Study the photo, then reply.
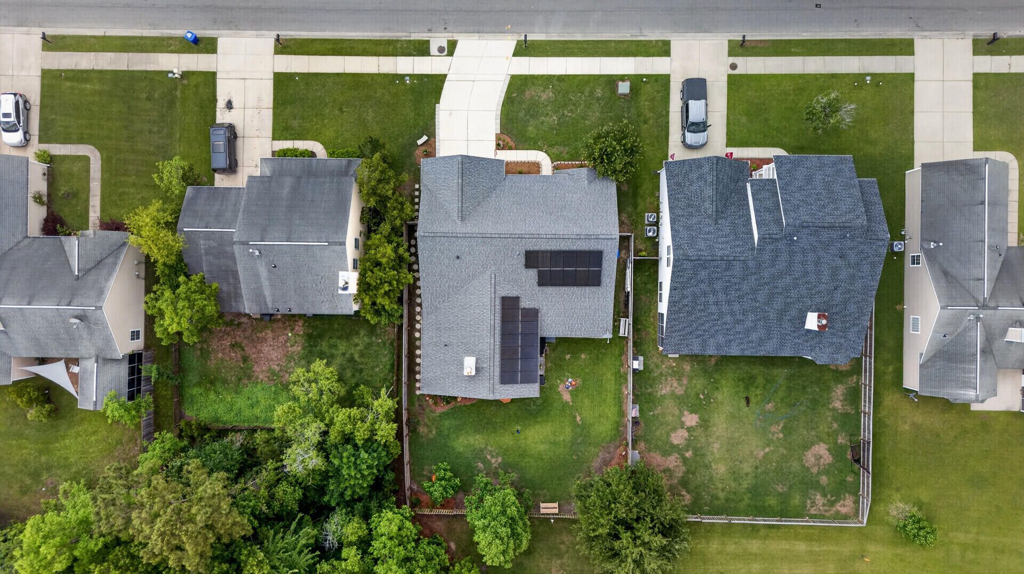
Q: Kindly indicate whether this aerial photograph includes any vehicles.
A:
Yes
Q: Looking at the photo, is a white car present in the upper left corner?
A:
Yes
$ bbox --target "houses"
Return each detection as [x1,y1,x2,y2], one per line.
[0,155,145,411]
[902,157,1024,413]
[658,155,889,365]
[177,157,368,314]
[416,153,619,398]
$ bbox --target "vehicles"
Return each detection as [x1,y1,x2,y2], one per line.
[680,79,711,148]
[209,123,239,176]
[1,92,35,147]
